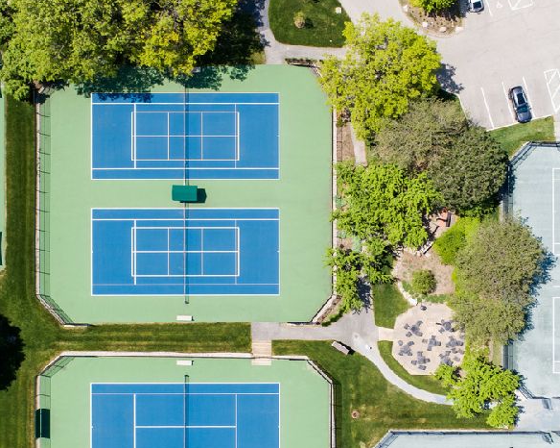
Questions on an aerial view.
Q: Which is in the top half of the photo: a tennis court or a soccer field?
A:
tennis court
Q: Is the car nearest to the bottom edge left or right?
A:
right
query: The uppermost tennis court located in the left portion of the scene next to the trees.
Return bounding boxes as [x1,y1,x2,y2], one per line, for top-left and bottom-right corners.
[91,93,280,179]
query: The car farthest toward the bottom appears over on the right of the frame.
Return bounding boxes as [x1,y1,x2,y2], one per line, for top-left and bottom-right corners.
[509,83,532,123]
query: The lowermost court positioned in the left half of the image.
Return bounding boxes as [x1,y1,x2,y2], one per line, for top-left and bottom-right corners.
[91,383,280,448]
